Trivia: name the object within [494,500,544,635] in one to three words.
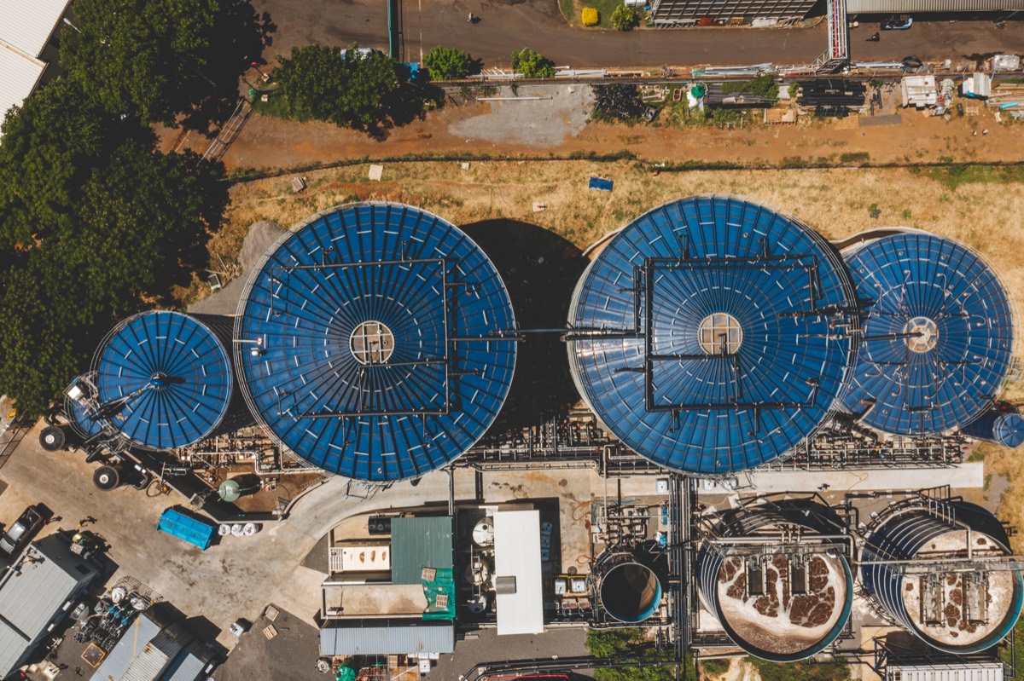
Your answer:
shed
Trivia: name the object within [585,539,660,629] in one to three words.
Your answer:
storage tank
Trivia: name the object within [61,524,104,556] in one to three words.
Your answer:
work vehicle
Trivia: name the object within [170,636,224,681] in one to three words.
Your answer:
shed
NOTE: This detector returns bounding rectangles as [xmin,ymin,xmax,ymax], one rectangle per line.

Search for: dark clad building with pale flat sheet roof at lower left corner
[0,533,102,680]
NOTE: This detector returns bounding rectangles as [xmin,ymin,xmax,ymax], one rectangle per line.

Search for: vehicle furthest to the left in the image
[0,504,52,558]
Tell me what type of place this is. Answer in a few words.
industrial area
